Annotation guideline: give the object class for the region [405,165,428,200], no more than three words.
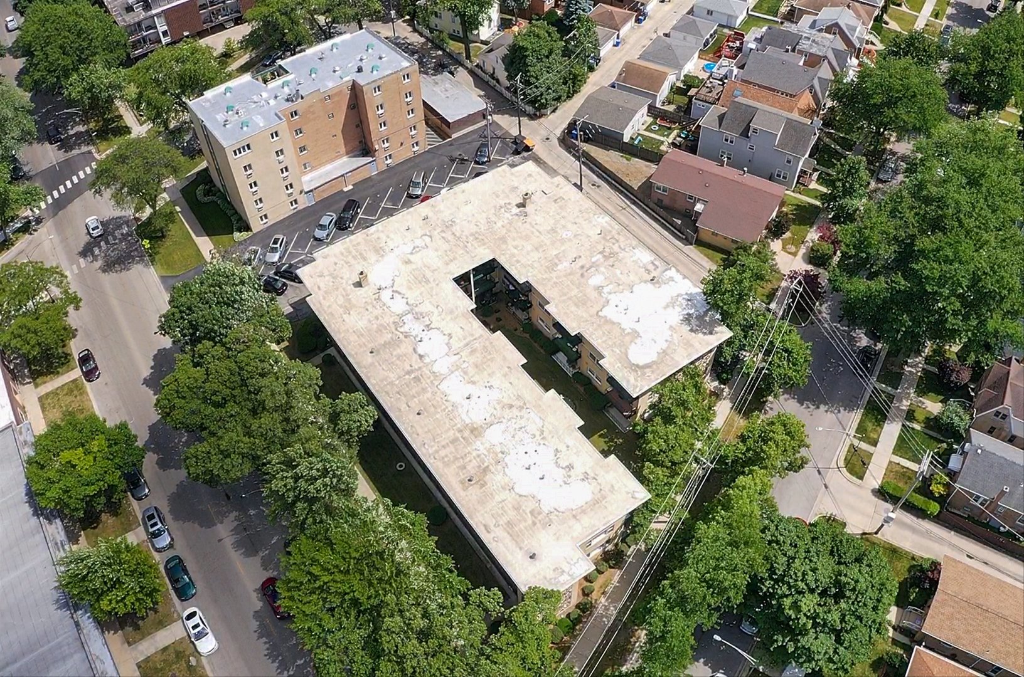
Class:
vehicle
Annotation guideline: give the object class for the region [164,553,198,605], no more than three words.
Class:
car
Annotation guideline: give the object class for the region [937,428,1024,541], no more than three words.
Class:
house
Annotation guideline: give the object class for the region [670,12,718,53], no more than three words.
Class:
building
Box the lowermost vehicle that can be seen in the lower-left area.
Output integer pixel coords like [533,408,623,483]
[181,605,219,661]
